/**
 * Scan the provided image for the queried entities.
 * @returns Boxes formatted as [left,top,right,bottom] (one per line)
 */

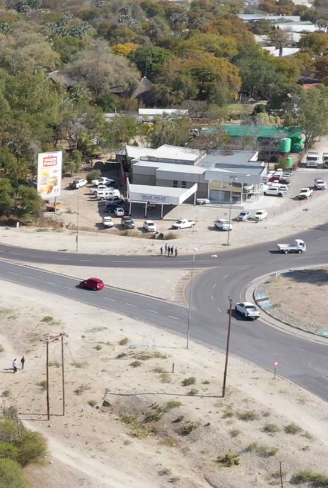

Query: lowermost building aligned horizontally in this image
[139,148,274,206]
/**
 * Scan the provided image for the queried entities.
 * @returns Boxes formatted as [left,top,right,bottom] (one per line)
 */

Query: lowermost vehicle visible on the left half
[78,280,106,296]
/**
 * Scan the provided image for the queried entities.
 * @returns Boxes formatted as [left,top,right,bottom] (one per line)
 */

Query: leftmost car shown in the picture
[68,178,88,190]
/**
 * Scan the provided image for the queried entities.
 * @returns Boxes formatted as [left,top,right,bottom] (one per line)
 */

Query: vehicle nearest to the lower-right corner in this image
[233,304,260,322]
